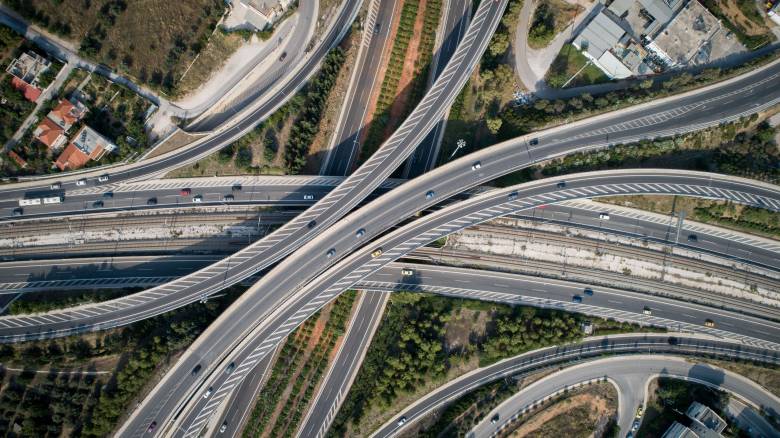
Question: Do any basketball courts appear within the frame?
No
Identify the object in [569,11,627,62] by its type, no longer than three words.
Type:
building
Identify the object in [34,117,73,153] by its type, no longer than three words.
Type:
house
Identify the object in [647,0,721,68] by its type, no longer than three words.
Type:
building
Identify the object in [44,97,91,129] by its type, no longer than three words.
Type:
house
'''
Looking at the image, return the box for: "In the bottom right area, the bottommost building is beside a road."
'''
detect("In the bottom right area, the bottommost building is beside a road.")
[639,396,728,438]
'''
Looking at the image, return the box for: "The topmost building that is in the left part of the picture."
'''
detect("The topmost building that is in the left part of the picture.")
[243,0,289,36]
